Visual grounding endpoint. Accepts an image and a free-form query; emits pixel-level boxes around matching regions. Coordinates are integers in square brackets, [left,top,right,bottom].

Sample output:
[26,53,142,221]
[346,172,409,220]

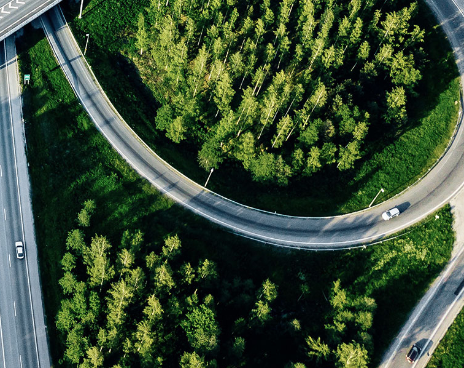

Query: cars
[381,205,402,219]
[14,240,24,260]
[406,341,424,362]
